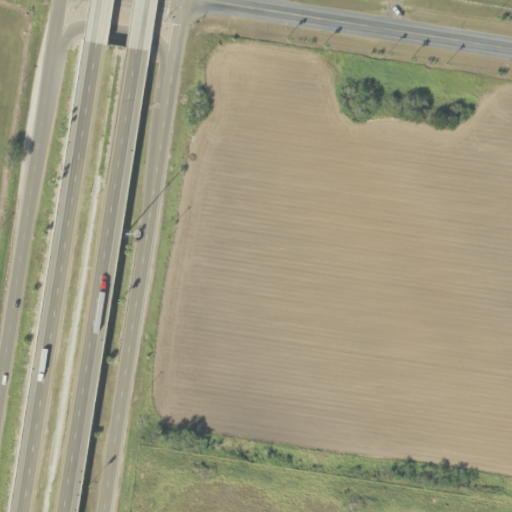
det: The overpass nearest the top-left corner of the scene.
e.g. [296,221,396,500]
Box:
[84,0,114,46]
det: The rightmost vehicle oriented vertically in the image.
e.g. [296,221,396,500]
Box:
[92,278,106,334]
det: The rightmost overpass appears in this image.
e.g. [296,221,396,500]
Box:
[126,0,160,50]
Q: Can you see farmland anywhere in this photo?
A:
Yes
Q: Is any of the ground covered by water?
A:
No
